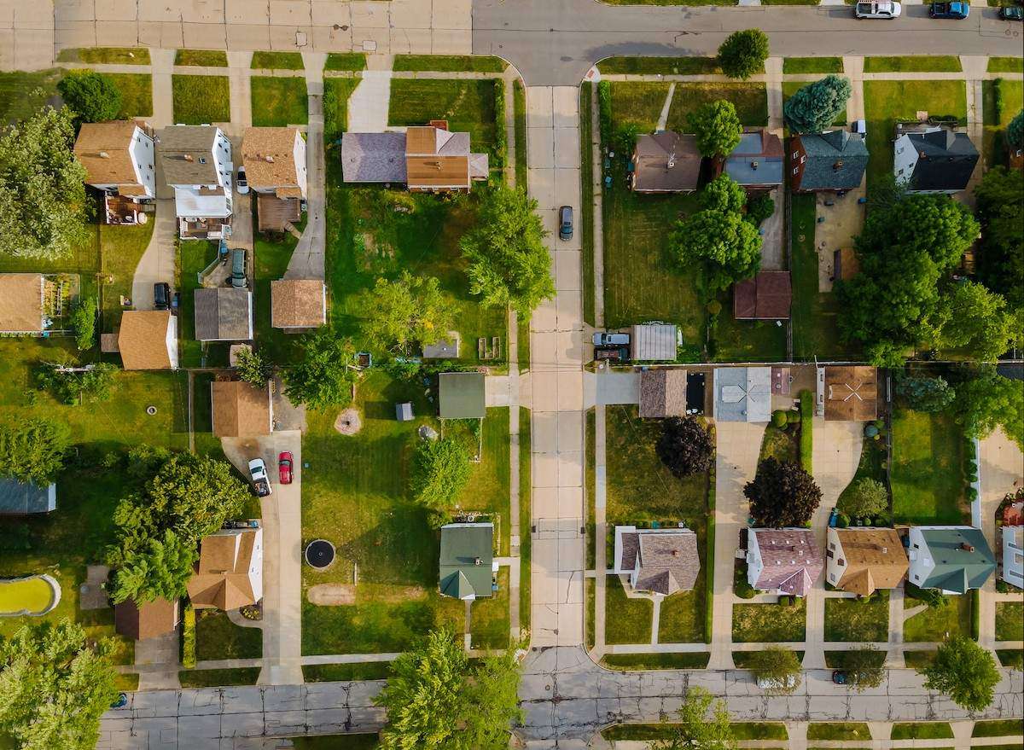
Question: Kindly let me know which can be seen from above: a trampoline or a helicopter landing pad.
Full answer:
It is a trampoline that can be seen here.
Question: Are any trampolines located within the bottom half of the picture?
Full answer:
Yes, looking within the bottom half of the picture, one can make out a trampoline.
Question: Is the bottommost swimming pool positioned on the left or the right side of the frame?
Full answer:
The bottommost swimming pool is on the left side of the image.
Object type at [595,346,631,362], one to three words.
vehicle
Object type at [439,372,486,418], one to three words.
building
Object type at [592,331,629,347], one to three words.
vehicle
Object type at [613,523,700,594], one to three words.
house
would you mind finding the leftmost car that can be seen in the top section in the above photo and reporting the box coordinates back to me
[153,282,171,311]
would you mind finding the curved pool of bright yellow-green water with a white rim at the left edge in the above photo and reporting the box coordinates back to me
[0,573,62,616]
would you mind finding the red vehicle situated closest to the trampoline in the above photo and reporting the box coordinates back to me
[277,451,293,485]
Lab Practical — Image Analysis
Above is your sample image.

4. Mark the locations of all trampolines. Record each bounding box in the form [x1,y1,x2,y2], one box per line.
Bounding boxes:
[306,540,335,568]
